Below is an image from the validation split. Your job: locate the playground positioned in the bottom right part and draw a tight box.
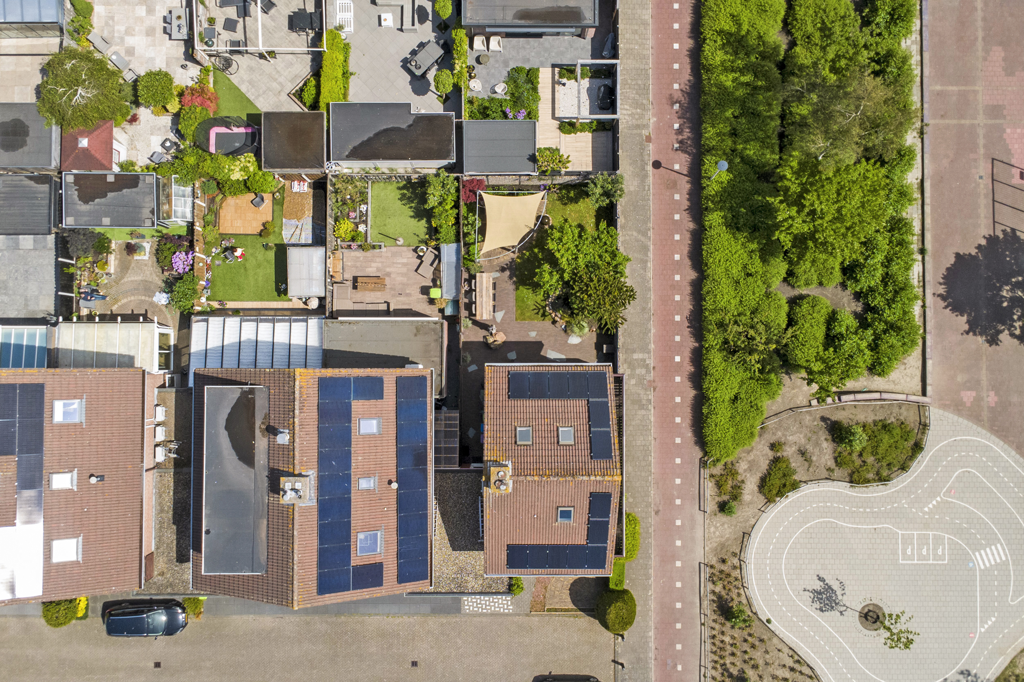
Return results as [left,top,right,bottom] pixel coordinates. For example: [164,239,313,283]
[746,408,1024,682]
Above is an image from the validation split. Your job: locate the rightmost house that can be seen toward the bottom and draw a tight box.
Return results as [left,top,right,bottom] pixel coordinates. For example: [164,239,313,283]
[483,362,624,578]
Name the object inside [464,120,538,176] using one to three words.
shed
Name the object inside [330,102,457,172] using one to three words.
shed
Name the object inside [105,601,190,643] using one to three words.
car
